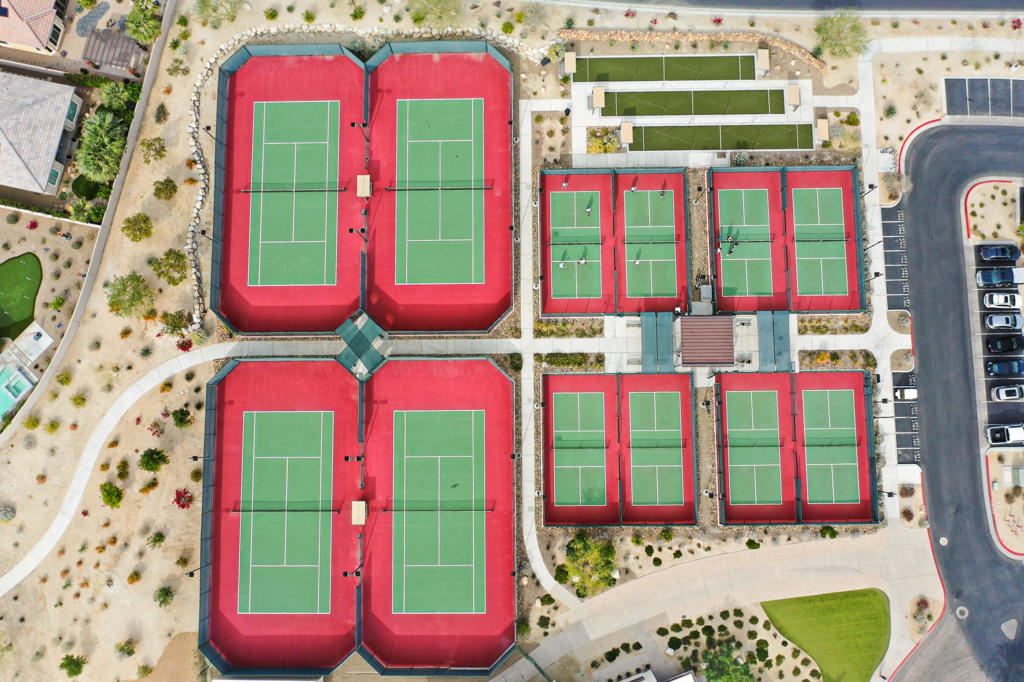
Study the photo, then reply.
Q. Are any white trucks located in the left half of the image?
No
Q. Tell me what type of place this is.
sports ground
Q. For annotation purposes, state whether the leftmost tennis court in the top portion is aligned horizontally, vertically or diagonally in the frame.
vertically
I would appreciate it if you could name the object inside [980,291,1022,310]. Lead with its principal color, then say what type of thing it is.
white car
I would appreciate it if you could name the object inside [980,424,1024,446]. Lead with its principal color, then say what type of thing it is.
white truck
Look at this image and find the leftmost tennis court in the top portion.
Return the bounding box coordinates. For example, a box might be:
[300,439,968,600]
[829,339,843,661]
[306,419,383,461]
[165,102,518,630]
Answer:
[220,55,368,335]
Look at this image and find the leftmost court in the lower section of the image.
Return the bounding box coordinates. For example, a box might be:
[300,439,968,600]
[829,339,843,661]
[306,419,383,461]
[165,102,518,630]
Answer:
[208,361,364,670]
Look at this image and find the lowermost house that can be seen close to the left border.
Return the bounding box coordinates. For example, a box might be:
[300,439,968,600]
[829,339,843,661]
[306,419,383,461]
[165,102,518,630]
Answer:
[0,78,86,196]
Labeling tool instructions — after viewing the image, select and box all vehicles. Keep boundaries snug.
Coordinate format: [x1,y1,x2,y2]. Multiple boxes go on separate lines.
[985,357,1024,377]
[982,312,1023,331]
[977,243,1020,262]
[988,383,1024,403]
[974,266,1024,287]
[980,291,1022,310]
[983,334,1024,353]
[893,389,922,400]
[980,424,1024,446]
